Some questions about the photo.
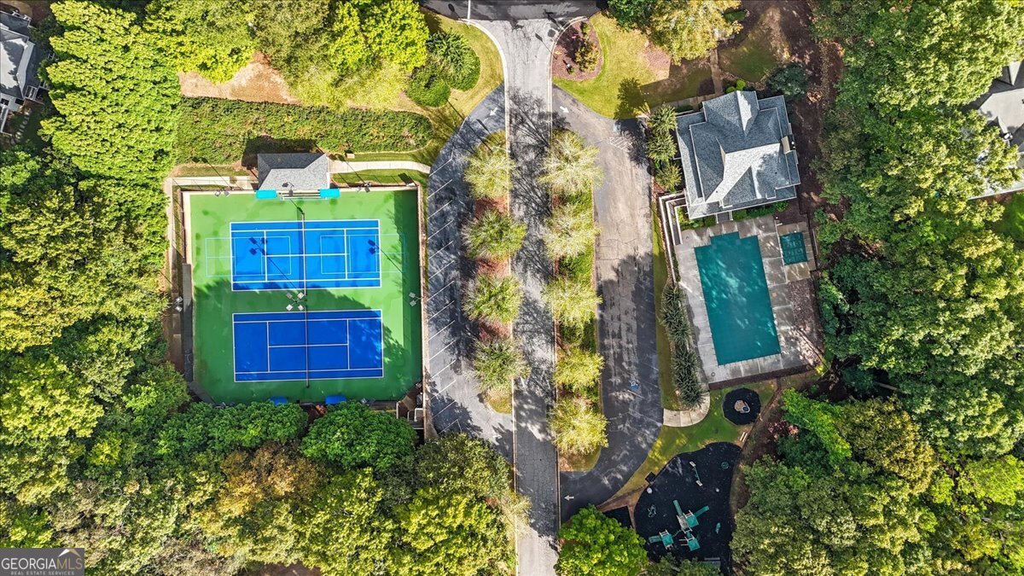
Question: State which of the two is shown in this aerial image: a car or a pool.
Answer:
pool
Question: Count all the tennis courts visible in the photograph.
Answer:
two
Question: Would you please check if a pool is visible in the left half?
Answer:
No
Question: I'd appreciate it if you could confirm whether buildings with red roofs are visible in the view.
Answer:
No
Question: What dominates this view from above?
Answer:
trees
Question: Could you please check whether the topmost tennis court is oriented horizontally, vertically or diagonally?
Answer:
horizontally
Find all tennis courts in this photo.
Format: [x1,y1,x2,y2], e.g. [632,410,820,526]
[233,305,383,387]
[206,214,406,296]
